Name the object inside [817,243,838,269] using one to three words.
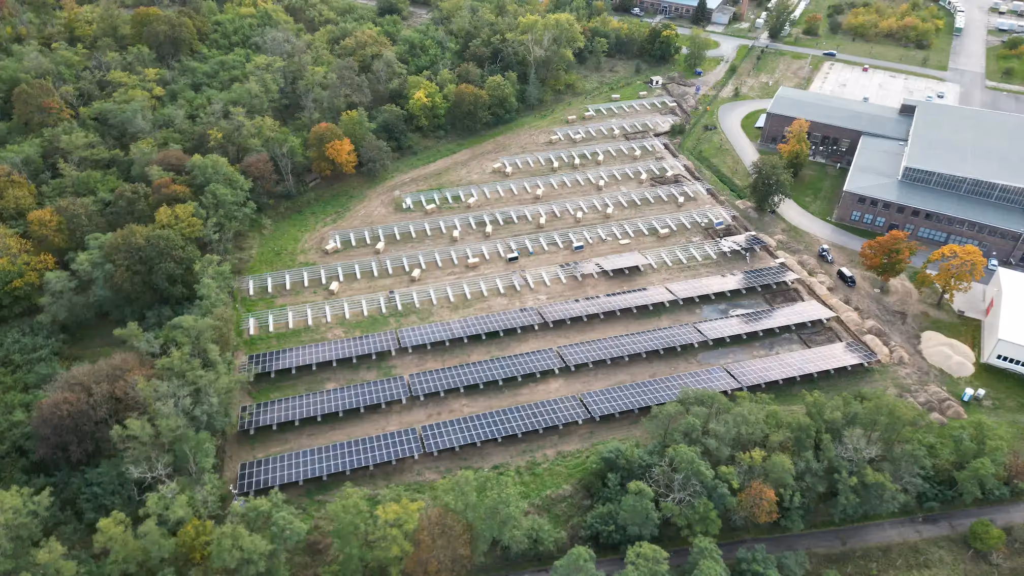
work vehicle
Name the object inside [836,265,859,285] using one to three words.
vehicle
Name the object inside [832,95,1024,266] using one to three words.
building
